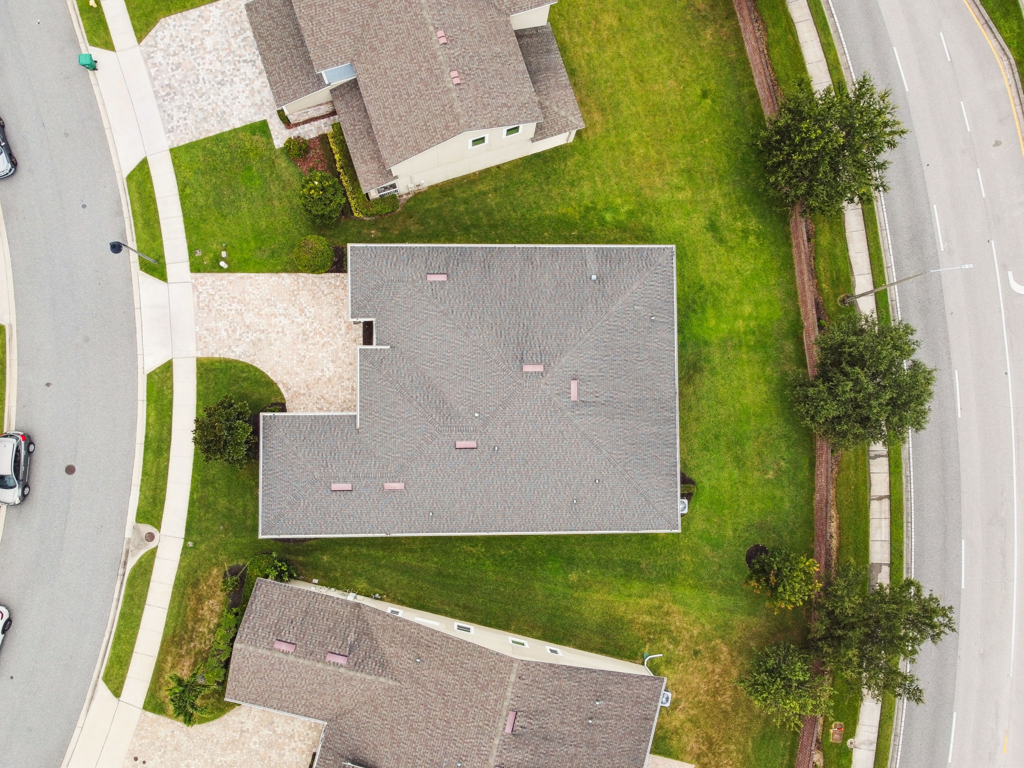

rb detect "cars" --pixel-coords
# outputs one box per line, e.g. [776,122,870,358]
[0,609,12,651]
[0,431,35,503]
[0,118,18,177]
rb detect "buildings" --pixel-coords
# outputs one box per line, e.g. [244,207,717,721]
[225,578,670,768]
[256,242,684,540]
[244,0,585,196]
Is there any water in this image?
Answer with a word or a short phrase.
No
